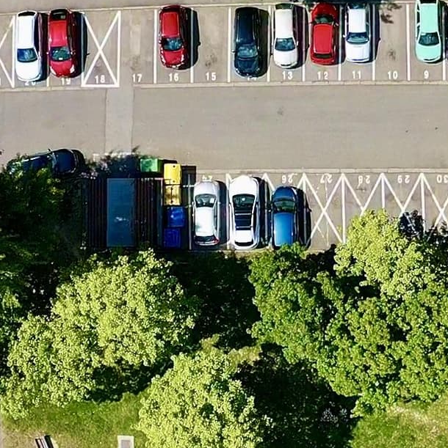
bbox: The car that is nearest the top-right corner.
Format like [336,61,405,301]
[414,0,446,64]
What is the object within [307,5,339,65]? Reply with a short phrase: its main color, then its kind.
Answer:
red car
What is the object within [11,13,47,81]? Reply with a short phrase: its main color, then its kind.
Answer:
white car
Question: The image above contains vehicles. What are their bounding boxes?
[270,187,302,247]
[189,181,221,245]
[269,6,301,69]
[228,178,262,247]
[46,10,80,77]
[343,6,374,64]
[15,146,86,179]
[414,0,446,64]
[157,7,190,70]
[233,8,266,77]
[307,5,339,65]
[11,13,47,81]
